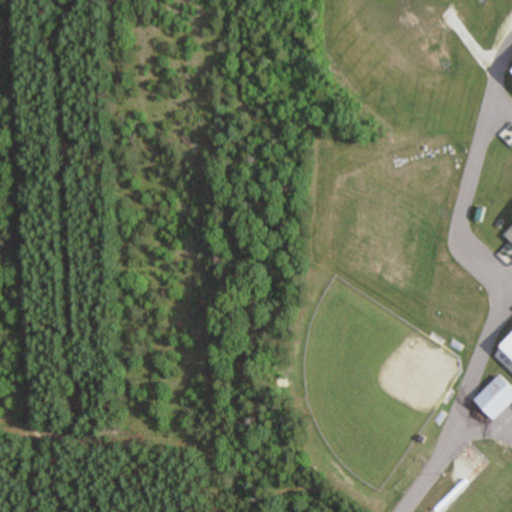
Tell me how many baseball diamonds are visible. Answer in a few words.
1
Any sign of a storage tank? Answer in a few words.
No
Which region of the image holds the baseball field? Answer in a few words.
bottom right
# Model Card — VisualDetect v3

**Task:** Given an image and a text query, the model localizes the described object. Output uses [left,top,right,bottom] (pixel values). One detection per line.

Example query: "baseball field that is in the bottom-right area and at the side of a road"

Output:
[304,278,463,490]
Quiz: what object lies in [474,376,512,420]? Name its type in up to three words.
house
